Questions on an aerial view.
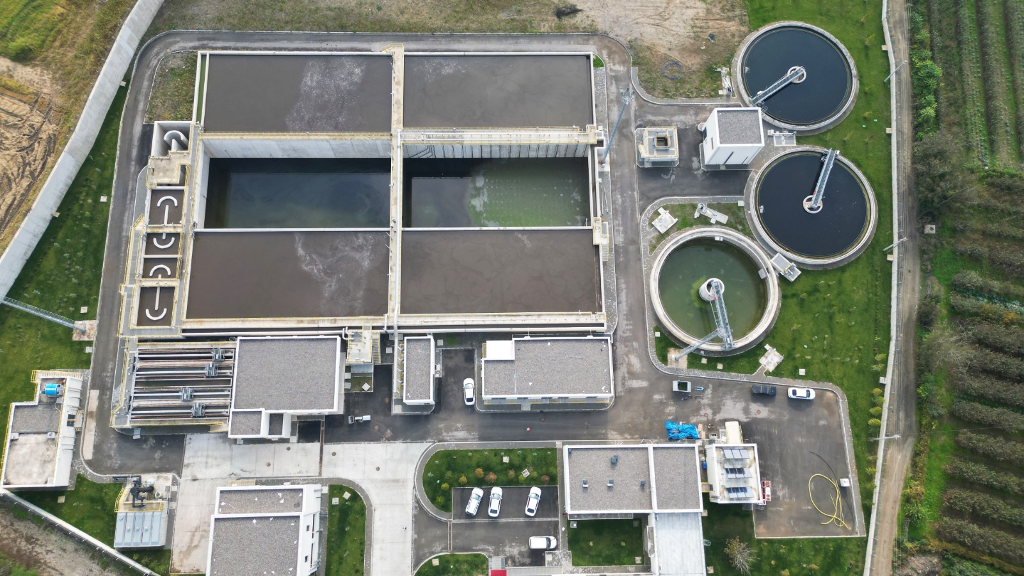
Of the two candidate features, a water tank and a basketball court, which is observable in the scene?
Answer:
water tank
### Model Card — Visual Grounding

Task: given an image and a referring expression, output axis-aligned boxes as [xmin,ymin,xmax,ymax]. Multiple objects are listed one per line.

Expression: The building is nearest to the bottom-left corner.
[0,369,87,487]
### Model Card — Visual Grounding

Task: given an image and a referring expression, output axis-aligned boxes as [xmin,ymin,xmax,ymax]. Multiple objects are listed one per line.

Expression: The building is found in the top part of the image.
[703,107,764,168]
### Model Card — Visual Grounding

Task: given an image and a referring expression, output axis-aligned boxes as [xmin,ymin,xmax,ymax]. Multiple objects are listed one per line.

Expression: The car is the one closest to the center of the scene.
[462,378,476,406]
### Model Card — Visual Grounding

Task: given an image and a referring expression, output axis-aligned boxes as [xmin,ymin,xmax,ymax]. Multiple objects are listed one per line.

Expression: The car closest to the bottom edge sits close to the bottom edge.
[529,535,558,551]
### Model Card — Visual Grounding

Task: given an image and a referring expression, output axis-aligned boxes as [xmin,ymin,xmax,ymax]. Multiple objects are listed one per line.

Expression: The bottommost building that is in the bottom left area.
[205,480,321,576]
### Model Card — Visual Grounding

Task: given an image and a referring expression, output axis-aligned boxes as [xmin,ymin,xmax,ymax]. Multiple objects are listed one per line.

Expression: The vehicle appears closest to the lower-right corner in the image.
[786,388,815,401]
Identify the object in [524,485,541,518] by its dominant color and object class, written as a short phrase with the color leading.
white car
